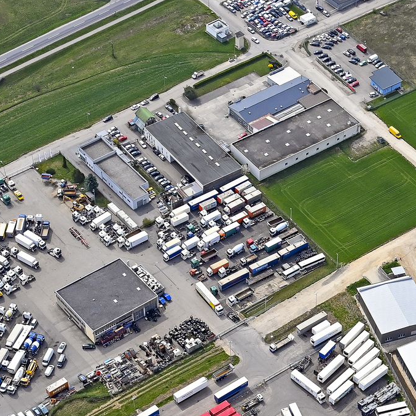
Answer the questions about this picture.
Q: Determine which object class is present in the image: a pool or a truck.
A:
truck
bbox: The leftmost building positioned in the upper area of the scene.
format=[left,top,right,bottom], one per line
[79,137,116,173]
